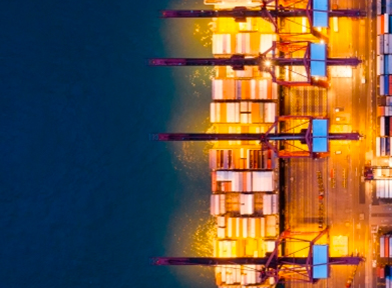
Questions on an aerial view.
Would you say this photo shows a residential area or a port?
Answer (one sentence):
The area seen from above is a port.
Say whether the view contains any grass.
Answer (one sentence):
No, the scene doesn't show any grass.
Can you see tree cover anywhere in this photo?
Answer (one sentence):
No, no tree cover is visible.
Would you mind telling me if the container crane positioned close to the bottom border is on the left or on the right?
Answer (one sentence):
The container crane positioned close to the bottom border sits on the right side.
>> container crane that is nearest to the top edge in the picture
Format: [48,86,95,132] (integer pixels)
[156,0,366,43]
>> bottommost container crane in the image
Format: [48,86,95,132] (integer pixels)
[154,223,366,285]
